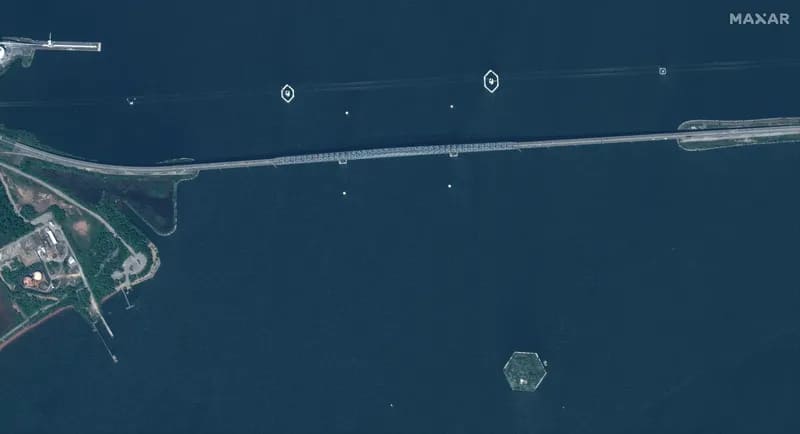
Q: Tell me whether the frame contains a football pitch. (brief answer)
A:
No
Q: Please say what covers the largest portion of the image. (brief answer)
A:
water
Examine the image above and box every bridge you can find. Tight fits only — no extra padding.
[12,126,800,173]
